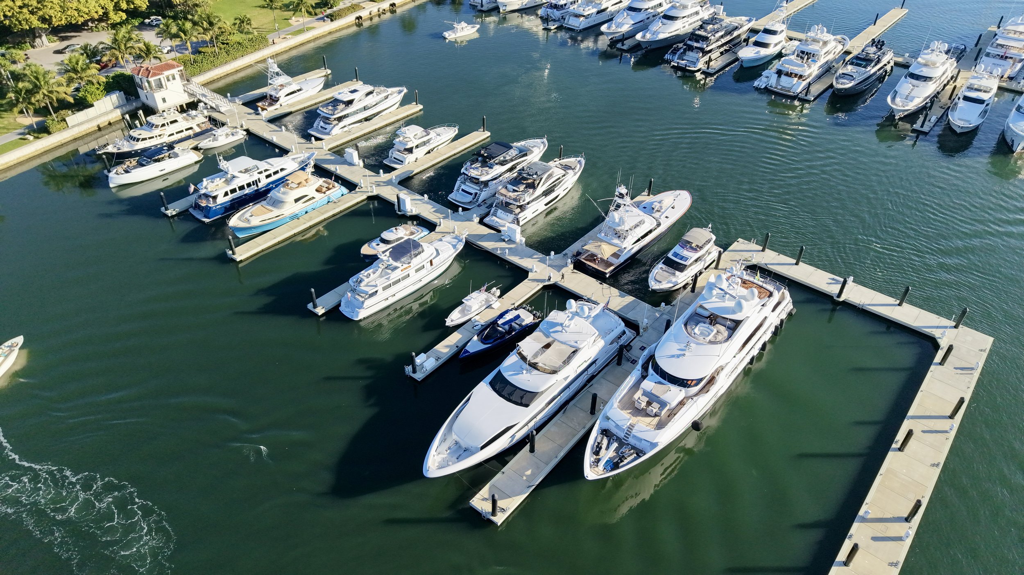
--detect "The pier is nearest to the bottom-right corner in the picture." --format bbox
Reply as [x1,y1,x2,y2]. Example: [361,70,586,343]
[829,339,987,575]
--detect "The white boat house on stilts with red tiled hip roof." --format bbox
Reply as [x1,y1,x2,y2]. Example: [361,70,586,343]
[129,60,200,112]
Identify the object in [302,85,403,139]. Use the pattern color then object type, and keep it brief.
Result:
white boat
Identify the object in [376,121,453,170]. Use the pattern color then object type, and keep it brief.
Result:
white boat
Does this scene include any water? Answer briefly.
Yes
